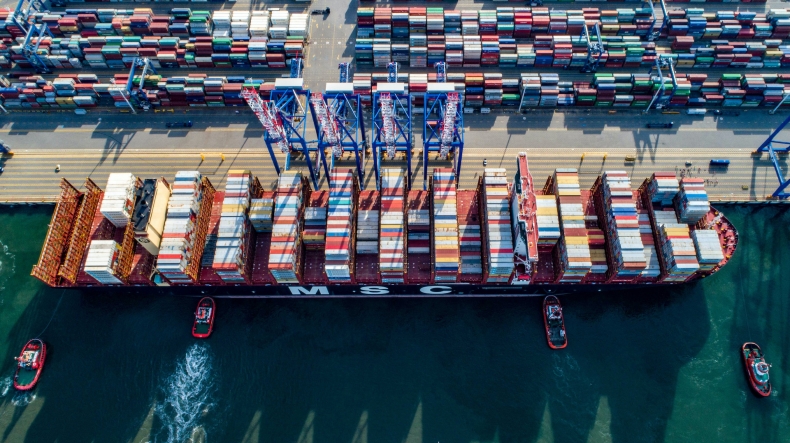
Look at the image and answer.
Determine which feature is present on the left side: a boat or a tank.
boat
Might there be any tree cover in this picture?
No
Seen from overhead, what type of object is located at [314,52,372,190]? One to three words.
container crane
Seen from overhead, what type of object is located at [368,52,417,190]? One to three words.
container crane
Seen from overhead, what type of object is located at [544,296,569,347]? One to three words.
boat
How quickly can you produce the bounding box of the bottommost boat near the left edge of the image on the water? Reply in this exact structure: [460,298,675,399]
[11,336,43,390]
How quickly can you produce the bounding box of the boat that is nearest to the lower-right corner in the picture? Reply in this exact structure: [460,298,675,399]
[744,341,775,395]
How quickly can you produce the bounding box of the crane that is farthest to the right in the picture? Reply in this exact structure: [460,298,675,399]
[754,124,790,196]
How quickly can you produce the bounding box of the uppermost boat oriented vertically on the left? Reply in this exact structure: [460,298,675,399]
[191,297,212,340]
